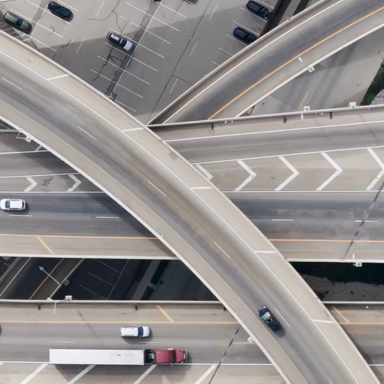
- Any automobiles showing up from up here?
Yes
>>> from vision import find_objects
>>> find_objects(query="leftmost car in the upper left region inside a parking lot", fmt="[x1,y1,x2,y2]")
[0,9,31,34]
